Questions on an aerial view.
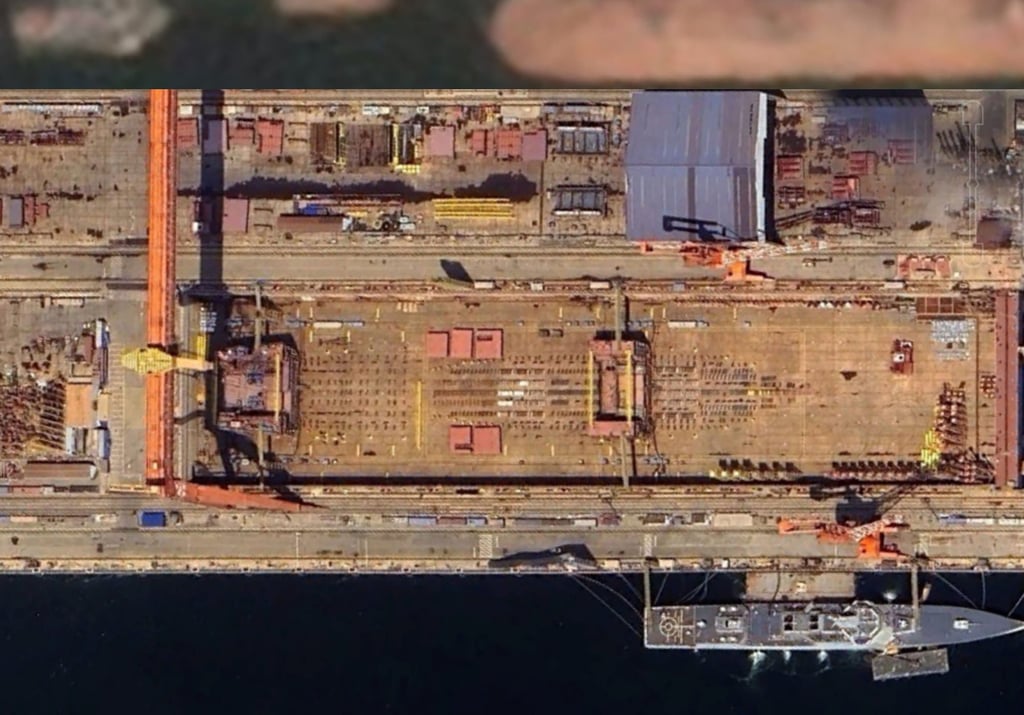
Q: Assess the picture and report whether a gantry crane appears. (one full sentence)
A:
Yes, the picture does show a gantry crane.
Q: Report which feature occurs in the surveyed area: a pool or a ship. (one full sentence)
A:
I can see a ship in this picture.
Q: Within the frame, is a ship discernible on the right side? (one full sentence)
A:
Yes, a ship appears on the right side.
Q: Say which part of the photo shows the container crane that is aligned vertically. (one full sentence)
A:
The container crane that is aligned vertically appears toward the left of the photo.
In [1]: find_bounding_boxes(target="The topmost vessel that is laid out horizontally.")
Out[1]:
[747,574,859,598]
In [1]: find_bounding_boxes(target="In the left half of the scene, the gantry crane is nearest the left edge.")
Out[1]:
[121,89,324,510]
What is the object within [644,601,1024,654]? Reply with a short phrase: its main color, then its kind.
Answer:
gray ship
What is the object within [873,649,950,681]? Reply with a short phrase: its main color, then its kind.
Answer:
gray ship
